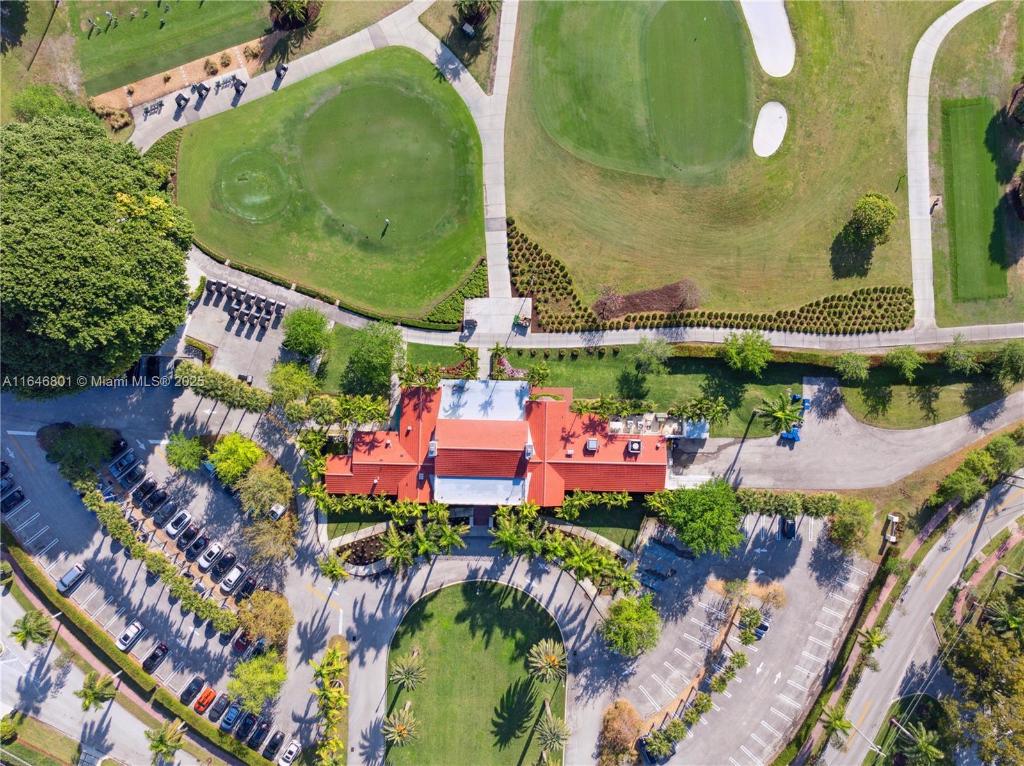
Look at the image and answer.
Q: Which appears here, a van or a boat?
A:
van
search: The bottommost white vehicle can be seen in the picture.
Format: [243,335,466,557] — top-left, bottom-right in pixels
[277,737,303,766]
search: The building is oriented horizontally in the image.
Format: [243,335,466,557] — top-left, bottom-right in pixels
[325,380,708,507]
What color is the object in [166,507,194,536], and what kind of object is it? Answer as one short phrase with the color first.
white car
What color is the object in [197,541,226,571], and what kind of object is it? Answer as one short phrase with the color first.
white car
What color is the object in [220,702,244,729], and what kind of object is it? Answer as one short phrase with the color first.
blue car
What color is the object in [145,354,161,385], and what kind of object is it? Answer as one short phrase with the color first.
black car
